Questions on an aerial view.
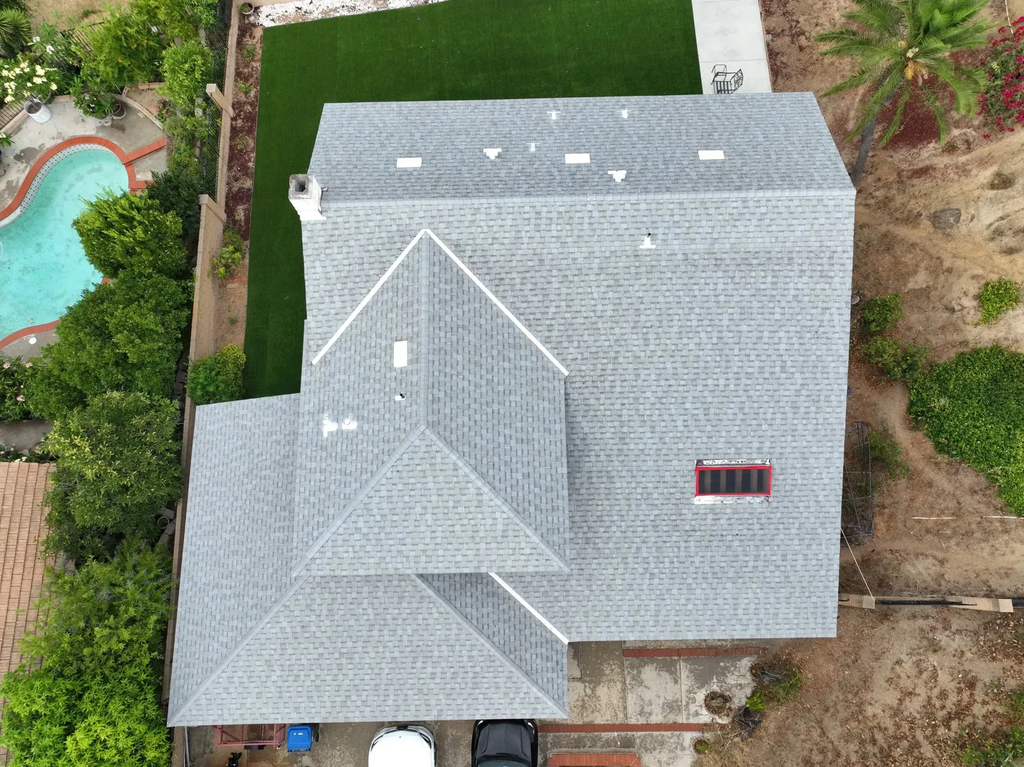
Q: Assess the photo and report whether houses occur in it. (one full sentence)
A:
Yes, a house is visible in the scene.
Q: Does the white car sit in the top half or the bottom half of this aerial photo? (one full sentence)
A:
It is in the bottom half that the white car appears.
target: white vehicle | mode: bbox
[368,723,434,767]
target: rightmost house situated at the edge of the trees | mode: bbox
[167,91,857,729]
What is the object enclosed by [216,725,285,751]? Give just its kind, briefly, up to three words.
trailer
